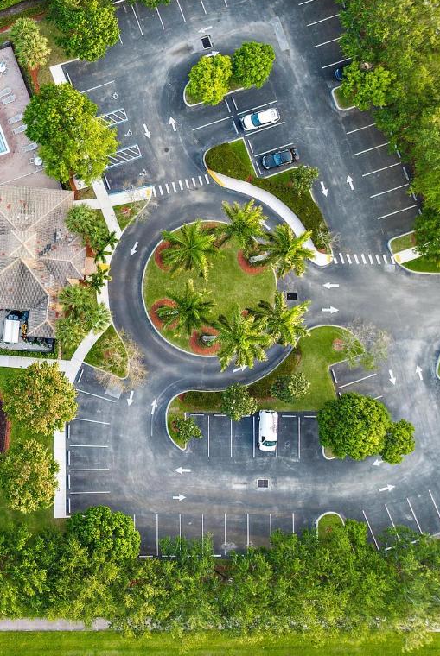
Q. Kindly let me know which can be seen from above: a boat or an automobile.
automobile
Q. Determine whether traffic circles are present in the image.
Yes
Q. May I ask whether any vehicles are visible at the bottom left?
No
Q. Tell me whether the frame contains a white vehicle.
Yes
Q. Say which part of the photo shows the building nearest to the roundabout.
left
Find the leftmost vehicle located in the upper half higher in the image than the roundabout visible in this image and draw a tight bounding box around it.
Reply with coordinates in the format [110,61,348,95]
[244,106,282,129]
